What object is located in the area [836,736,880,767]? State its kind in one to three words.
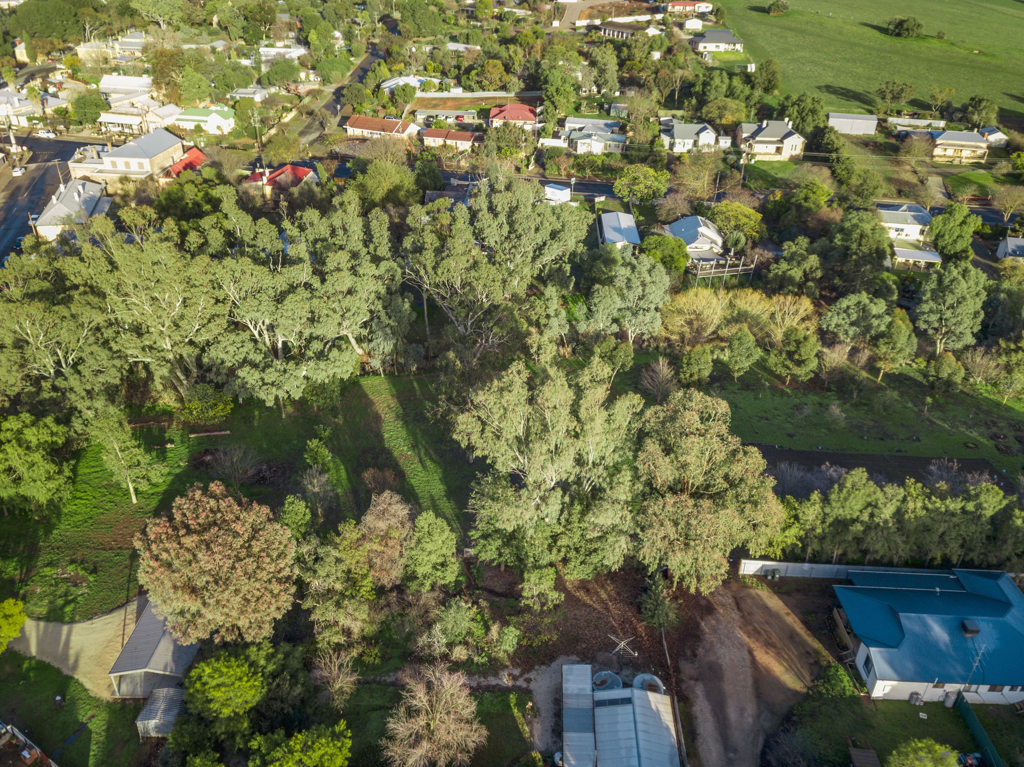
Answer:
shed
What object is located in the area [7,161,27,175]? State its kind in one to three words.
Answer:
car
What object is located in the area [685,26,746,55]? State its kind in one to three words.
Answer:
house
